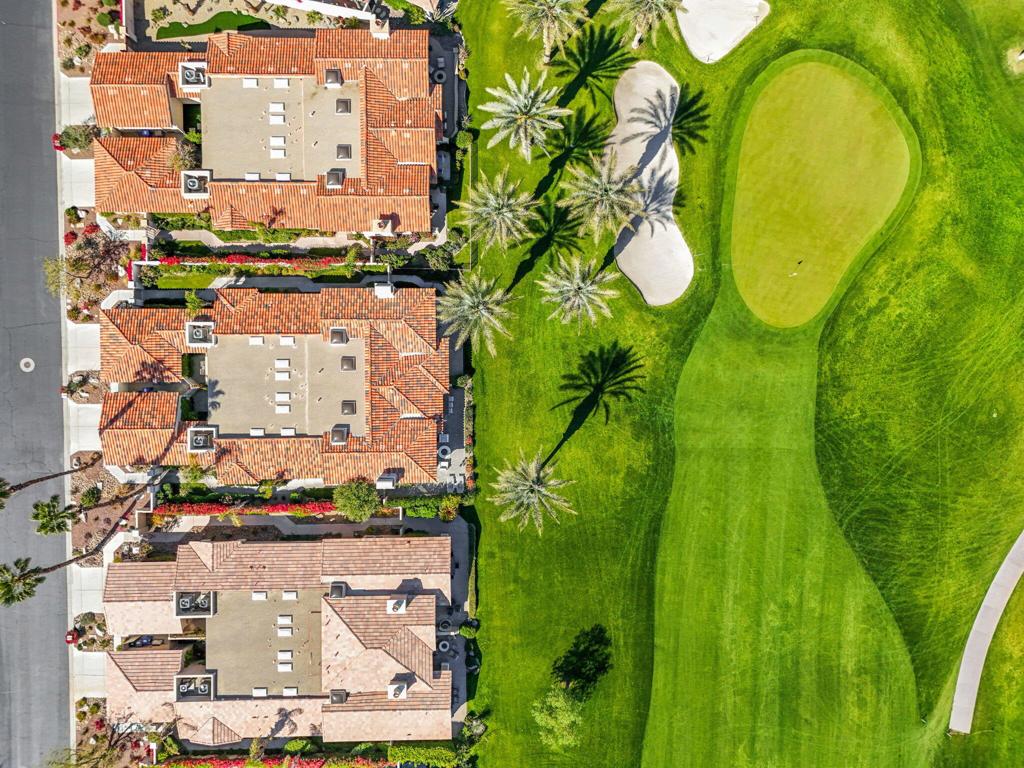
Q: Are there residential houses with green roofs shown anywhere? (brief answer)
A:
No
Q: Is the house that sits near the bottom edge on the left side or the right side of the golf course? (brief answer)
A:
to its left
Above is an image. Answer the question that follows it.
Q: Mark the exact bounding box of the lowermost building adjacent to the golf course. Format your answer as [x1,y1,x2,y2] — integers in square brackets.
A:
[102,536,452,745]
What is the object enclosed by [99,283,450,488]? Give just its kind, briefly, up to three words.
house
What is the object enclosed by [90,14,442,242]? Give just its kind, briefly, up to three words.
house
